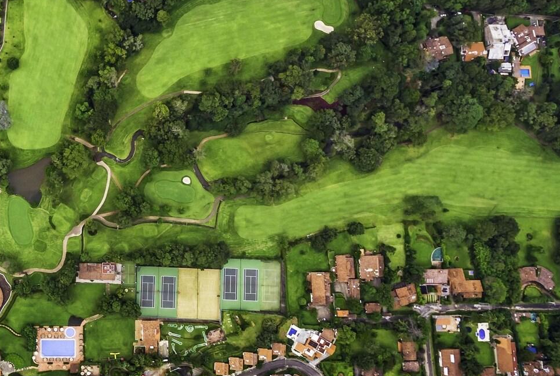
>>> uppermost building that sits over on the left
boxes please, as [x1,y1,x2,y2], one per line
[75,255,121,285]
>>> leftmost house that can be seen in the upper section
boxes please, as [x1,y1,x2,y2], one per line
[423,36,454,60]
